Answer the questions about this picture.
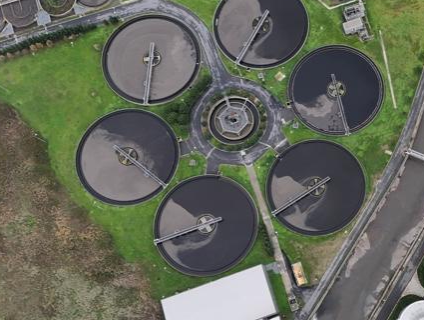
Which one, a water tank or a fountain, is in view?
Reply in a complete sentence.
The one in the frame is a water tank.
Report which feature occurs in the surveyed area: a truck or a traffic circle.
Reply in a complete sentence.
This aerial view contains a traffic circle.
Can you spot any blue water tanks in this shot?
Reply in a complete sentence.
No, no blue water tank can be seen from above.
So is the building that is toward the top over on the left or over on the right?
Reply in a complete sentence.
You can find the building that is toward the top on the right side of the picture.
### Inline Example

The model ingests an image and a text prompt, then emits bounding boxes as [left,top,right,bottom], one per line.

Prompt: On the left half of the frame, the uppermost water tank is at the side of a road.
[102,14,201,107]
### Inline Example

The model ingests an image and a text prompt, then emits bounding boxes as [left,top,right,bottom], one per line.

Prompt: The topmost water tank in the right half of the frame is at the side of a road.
[213,0,309,69]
